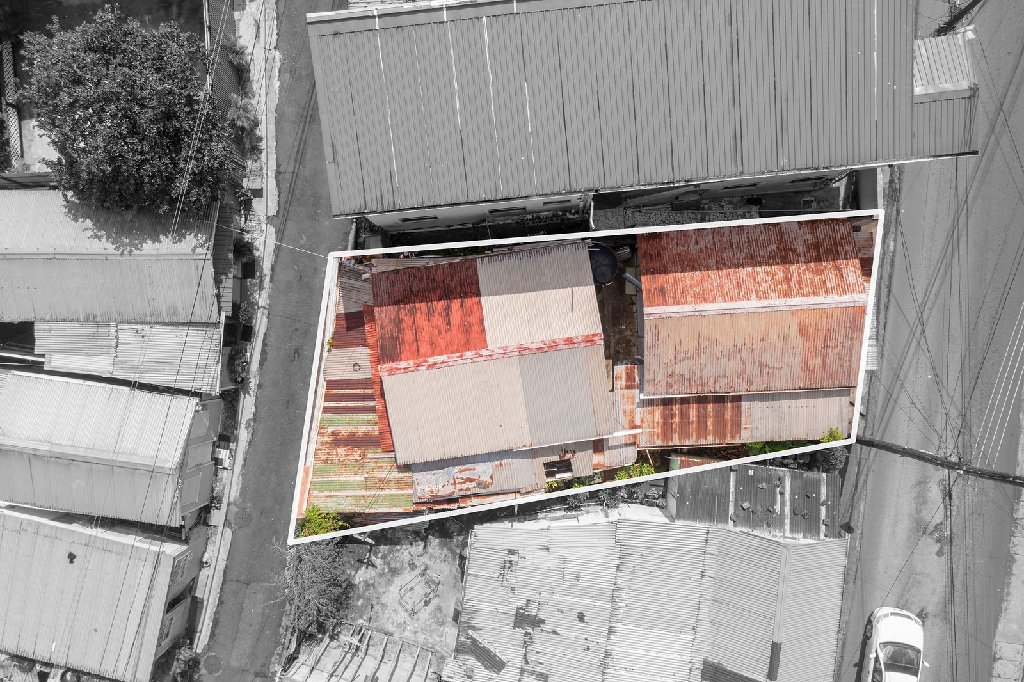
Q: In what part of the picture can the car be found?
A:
bottom right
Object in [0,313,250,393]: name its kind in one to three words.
shed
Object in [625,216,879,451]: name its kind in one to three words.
house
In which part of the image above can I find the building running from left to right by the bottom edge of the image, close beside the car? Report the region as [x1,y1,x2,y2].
[442,509,849,682]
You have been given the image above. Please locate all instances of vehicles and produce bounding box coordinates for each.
[862,604,931,682]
